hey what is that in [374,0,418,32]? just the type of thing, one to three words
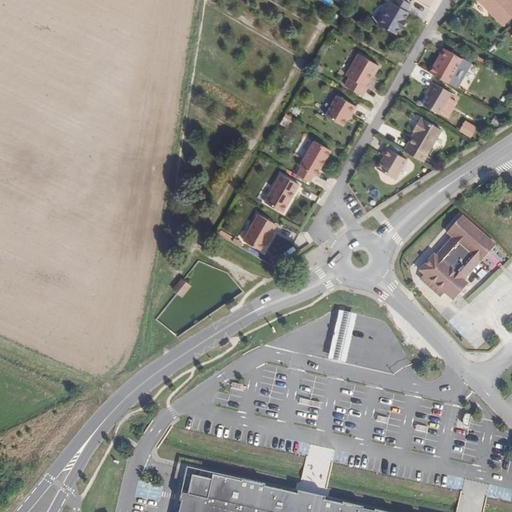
house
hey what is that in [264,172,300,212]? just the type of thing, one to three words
house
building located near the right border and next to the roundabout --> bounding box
[418,215,496,304]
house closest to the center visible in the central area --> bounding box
[248,214,284,252]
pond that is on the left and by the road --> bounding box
[154,260,245,337]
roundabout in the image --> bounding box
[327,224,396,296]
